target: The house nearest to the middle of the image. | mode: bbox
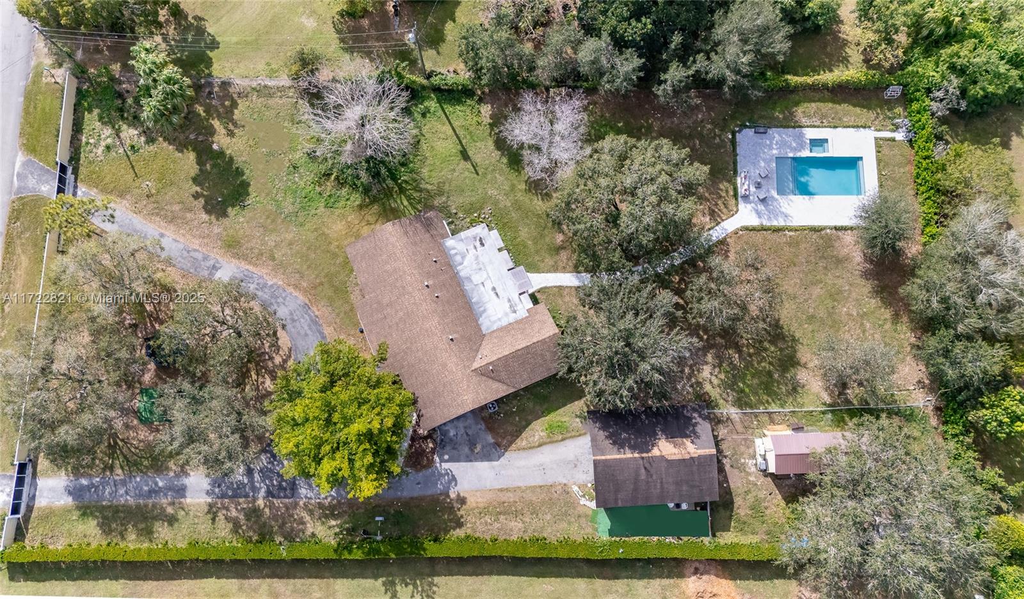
[345,209,574,435]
